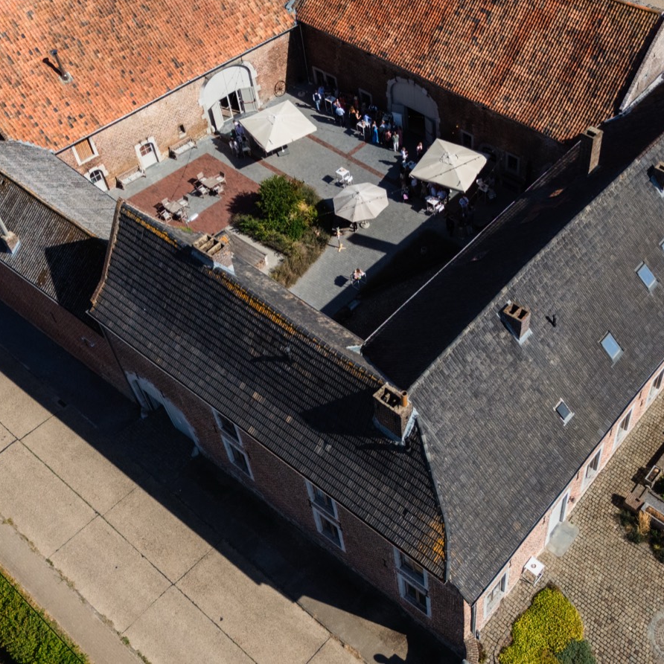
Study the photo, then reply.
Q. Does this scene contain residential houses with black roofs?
Yes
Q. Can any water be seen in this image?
No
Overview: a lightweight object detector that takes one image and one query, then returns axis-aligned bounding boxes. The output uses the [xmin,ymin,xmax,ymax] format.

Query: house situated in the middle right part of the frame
[365,88,664,647]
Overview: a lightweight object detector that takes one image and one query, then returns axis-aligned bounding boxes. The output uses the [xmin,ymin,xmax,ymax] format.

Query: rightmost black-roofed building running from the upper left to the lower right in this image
[84,198,463,649]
